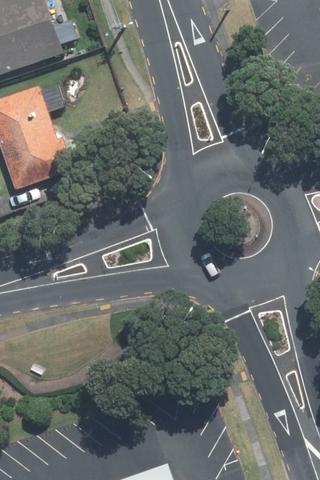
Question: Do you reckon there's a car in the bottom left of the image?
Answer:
No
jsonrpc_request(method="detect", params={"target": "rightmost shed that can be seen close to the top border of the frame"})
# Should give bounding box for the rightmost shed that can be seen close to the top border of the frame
[54,20,78,44]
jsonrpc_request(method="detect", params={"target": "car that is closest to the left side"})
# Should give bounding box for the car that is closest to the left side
[8,186,41,206]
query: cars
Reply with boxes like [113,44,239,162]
[202,252,220,278]
[8,186,41,206]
